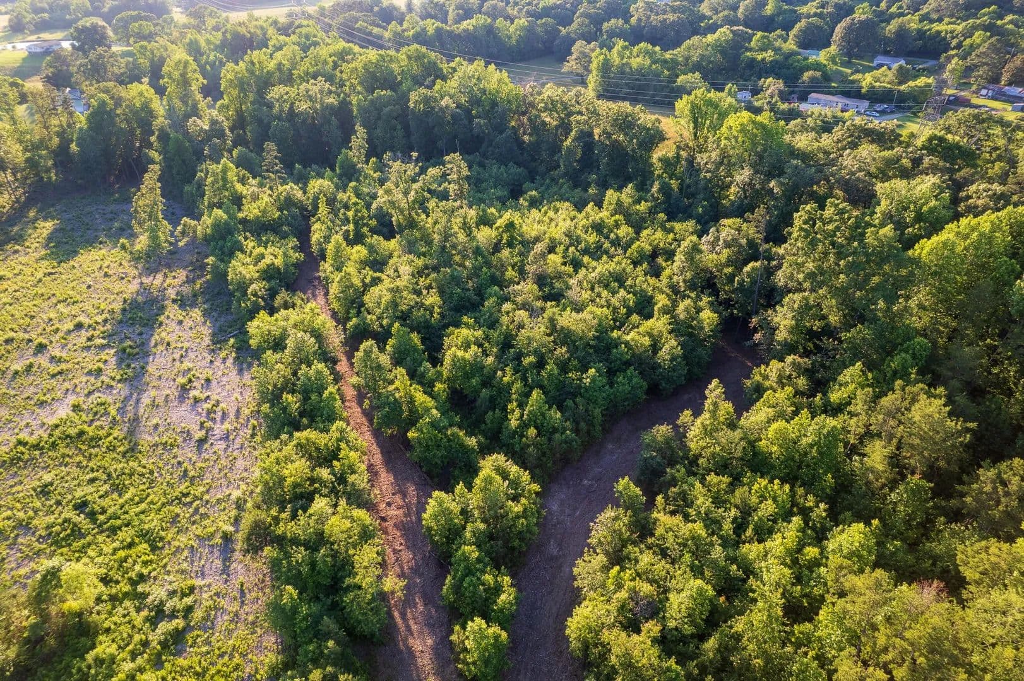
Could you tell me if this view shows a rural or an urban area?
rural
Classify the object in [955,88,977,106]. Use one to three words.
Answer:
barn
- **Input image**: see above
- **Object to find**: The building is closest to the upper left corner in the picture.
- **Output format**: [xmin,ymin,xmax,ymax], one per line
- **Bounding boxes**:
[24,35,61,51]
